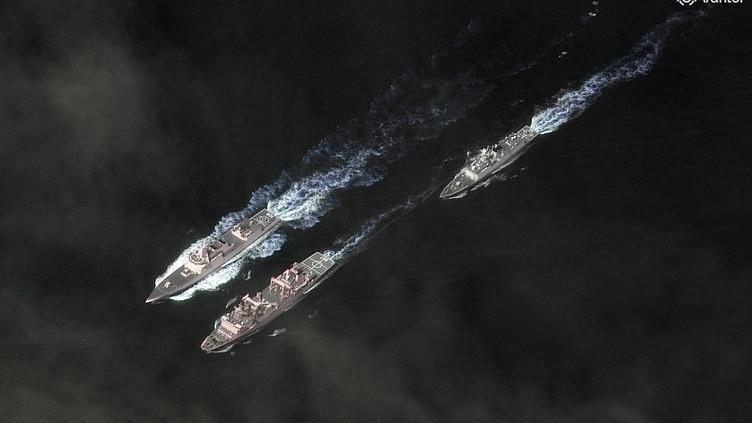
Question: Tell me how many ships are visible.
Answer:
3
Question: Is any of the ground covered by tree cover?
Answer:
No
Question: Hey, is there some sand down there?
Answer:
No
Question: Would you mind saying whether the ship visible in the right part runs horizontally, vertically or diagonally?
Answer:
diagonally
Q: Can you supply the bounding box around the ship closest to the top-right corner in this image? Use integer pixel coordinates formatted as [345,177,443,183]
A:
[440,126,538,198]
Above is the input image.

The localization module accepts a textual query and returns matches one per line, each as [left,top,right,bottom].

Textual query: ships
[440,126,538,198]
[146,209,281,302]
[200,252,336,351]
